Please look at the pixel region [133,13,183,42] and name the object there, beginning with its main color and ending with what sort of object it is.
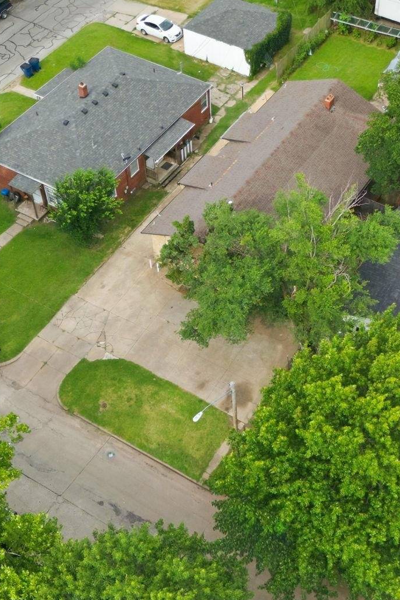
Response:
white car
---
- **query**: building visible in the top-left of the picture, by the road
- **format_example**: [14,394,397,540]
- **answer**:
[0,45,213,229]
